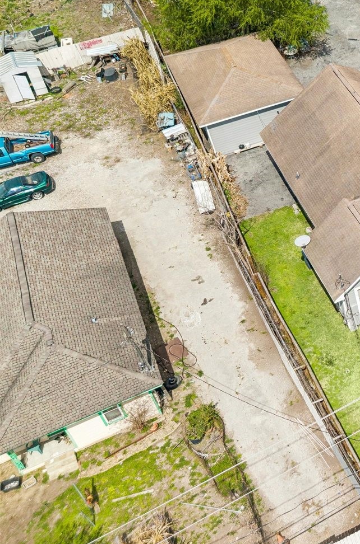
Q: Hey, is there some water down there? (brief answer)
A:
No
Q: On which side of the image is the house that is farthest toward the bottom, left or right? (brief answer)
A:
left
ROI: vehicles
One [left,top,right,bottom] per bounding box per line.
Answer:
[0,165,54,205]
[0,129,56,166]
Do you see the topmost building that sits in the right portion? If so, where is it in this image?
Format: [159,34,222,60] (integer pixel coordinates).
[157,30,305,153]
